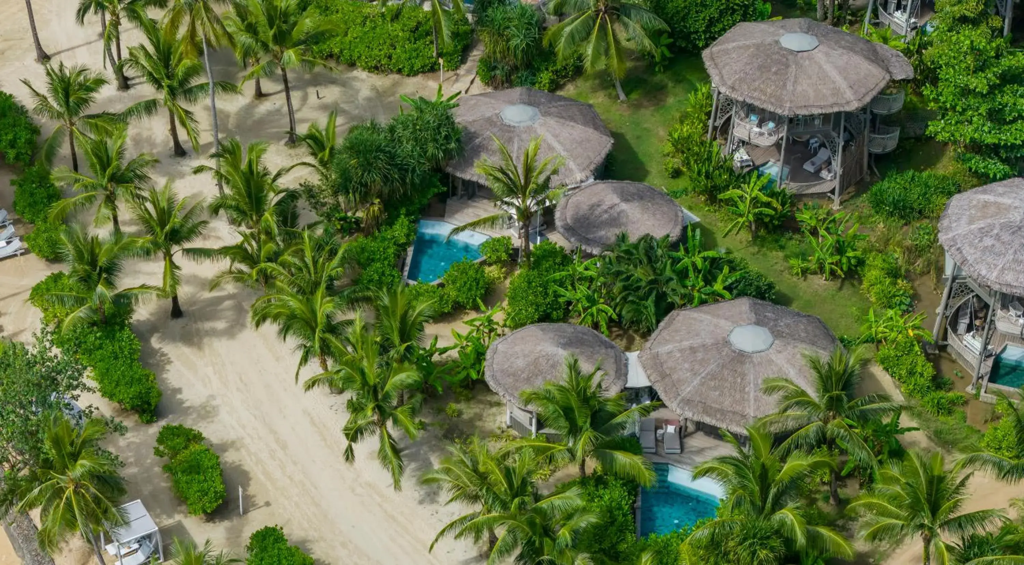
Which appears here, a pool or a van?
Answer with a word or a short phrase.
pool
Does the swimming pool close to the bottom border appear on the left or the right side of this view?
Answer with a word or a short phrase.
right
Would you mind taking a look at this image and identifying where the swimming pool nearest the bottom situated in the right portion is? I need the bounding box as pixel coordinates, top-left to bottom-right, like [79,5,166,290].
[635,458,729,555]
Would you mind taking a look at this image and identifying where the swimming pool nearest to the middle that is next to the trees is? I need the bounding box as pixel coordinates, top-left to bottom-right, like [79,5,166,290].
[402,216,497,291]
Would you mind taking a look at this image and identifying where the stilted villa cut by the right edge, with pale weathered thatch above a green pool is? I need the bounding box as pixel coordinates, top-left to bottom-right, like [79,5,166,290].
[922,176,1024,394]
